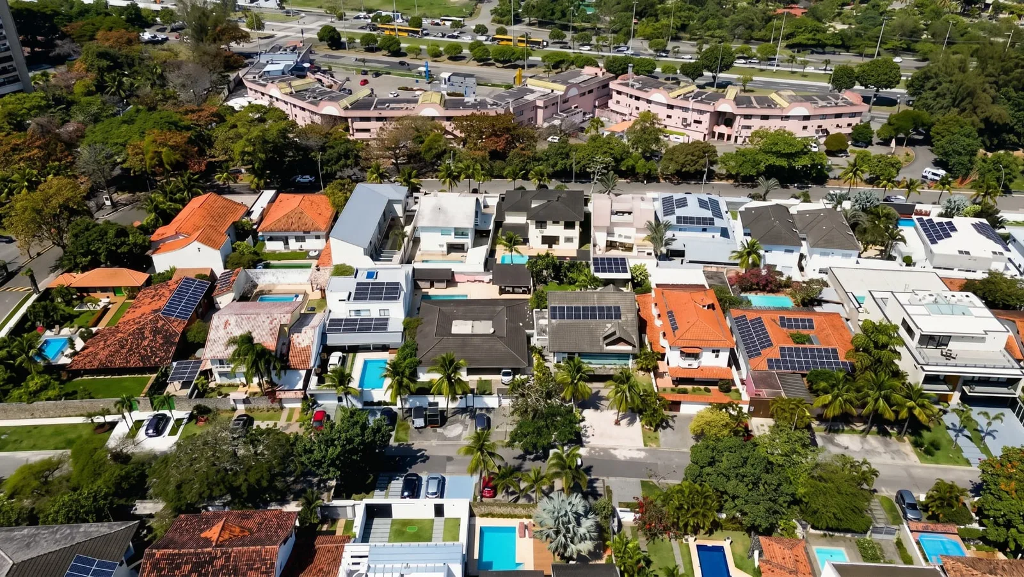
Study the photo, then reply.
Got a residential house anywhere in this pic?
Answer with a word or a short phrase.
Yes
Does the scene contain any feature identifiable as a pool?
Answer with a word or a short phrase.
Yes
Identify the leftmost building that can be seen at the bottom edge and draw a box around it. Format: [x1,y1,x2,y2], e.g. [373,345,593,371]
[0,520,141,577]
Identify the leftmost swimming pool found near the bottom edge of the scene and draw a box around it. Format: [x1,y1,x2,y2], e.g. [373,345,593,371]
[475,525,518,573]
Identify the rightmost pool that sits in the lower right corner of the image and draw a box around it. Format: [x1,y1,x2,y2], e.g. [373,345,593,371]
[916,533,970,568]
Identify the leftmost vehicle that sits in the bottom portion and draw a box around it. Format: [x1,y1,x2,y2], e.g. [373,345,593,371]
[138,406,176,437]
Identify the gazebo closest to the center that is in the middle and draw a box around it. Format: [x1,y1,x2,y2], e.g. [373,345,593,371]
[493,264,531,299]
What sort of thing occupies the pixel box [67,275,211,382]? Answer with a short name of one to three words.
house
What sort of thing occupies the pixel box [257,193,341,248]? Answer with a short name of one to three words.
house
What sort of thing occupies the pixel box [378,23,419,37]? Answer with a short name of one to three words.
vehicle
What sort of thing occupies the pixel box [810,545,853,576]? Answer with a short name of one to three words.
swimming pool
